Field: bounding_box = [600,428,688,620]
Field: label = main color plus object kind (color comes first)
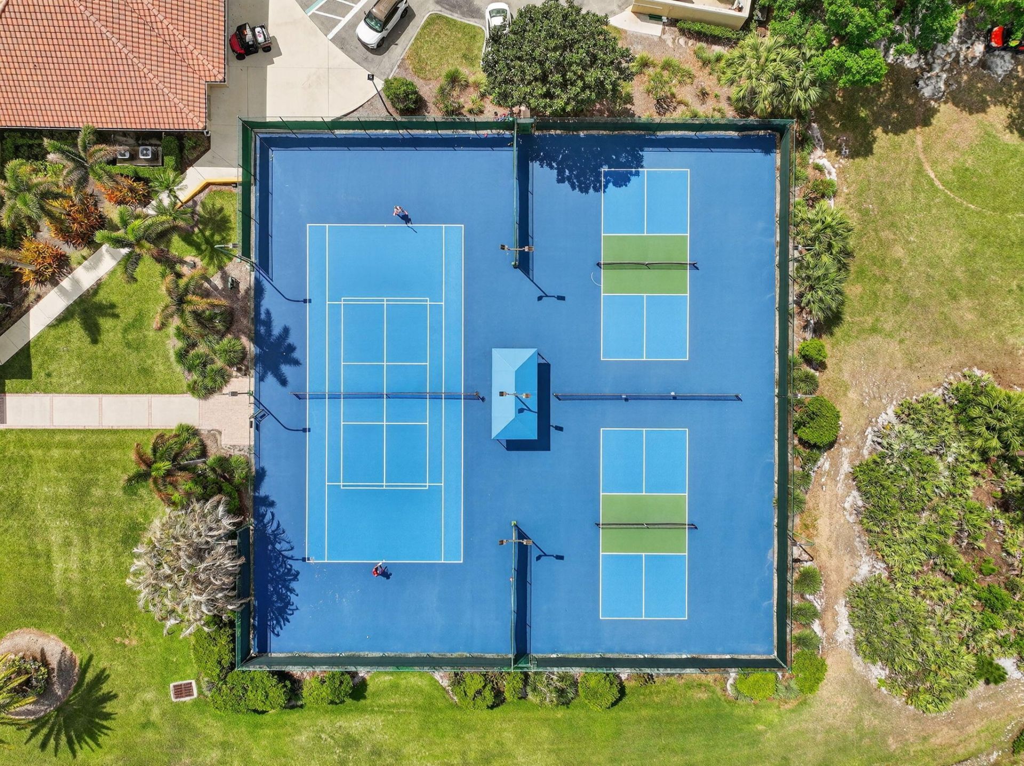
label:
blue sports court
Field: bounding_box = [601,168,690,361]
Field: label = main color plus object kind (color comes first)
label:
blue sports court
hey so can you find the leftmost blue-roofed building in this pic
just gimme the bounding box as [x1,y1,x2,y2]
[491,349,537,440]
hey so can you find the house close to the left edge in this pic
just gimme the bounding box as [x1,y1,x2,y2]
[0,0,230,150]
